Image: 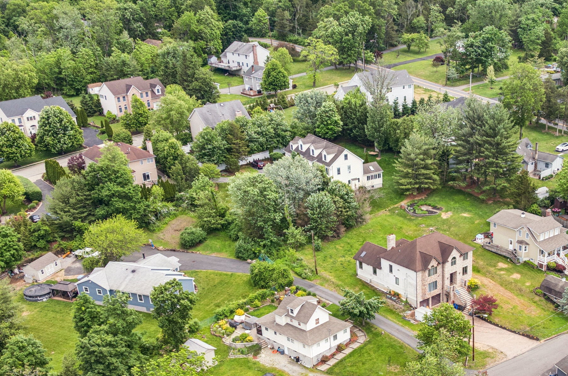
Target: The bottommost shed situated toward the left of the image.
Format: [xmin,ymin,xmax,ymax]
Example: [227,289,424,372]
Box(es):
[186,344,220,372]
